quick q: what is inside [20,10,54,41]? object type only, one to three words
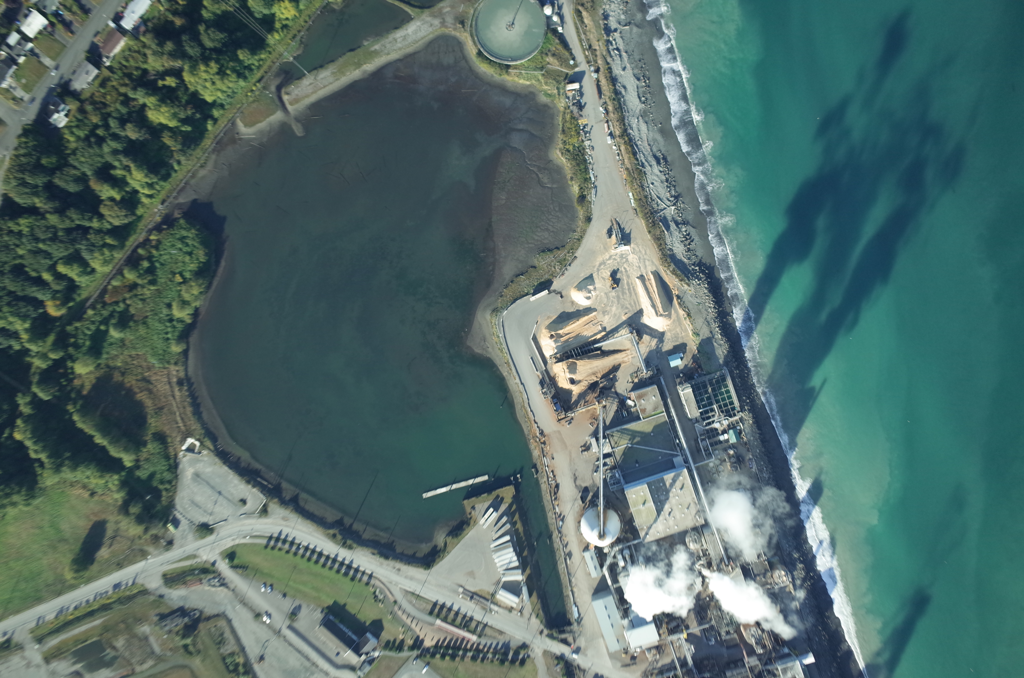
house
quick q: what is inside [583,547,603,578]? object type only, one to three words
building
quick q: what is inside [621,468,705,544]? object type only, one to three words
building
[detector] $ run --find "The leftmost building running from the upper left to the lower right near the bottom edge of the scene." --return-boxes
[323,614,362,654]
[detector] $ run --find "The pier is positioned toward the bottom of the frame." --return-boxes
[423,474,488,499]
